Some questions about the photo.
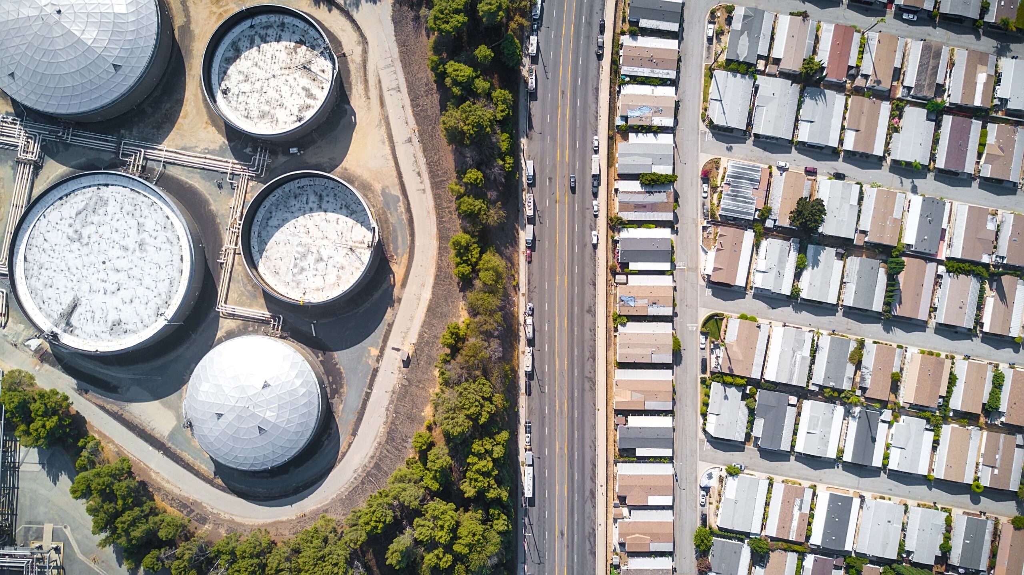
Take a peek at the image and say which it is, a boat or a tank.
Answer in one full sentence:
Visible in the photo is a tank.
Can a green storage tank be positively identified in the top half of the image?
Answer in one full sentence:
No, no green storage tank is visible in the top half of the image.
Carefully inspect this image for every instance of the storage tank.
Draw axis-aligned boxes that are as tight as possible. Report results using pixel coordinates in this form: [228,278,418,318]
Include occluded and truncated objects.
[201,4,347,141]
[0,0,173,121]
[183,334,327,470]
[8,170,205,353]
[241,171,377,309]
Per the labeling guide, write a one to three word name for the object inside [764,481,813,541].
house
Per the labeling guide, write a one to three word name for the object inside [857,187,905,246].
house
